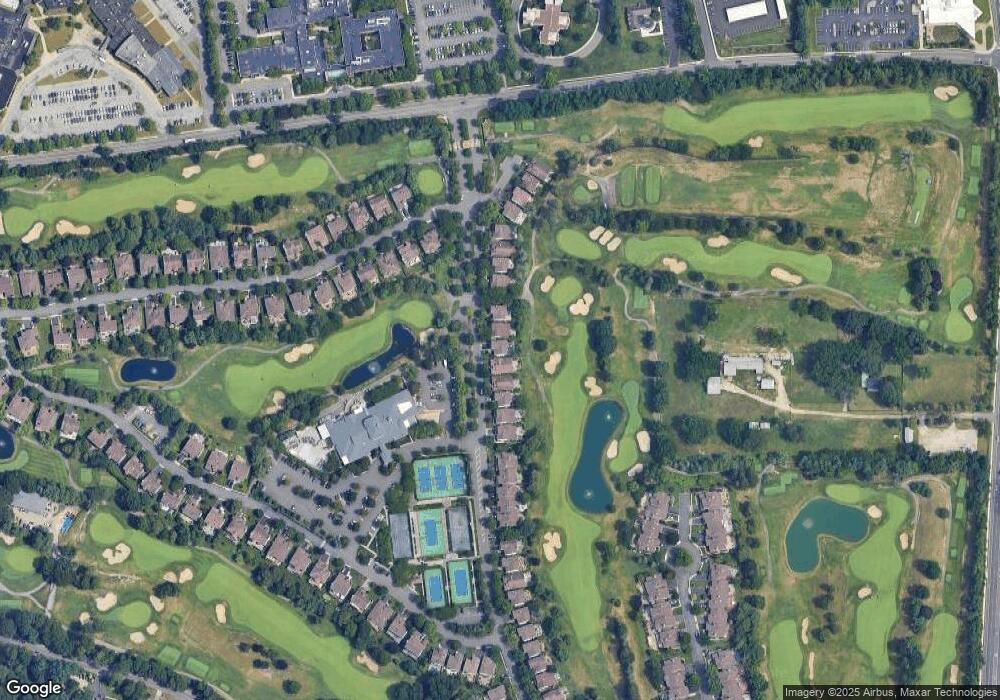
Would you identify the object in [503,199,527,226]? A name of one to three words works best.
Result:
house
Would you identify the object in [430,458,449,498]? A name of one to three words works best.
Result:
tennis court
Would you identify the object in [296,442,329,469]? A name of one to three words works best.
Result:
swimming pool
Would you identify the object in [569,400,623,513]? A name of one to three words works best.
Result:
pond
